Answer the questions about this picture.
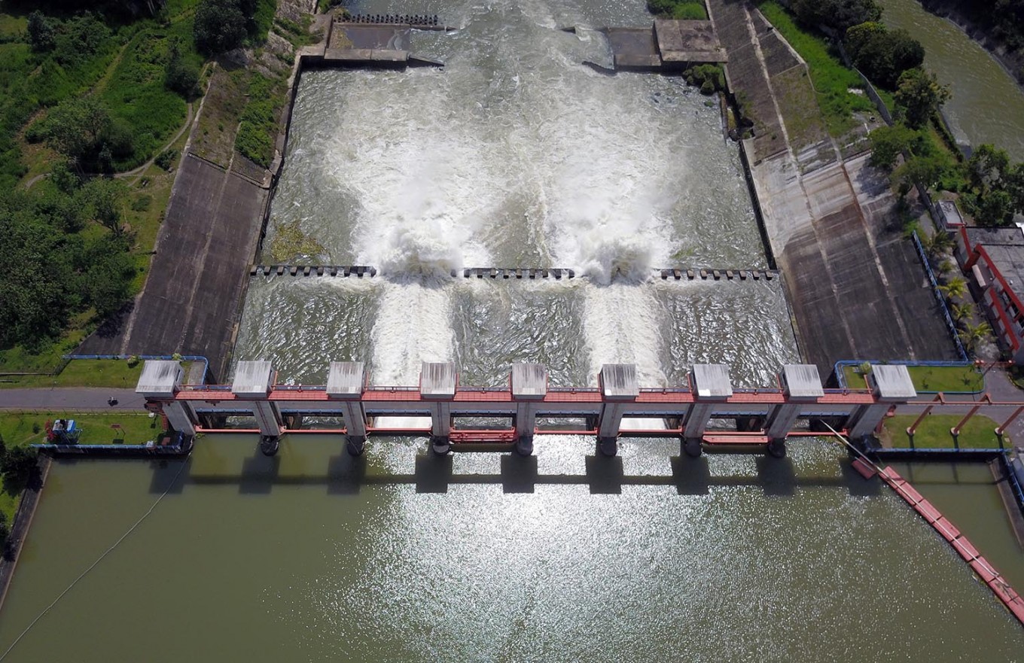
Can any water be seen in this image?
Yes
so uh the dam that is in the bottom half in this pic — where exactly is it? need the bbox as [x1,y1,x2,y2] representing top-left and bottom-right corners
[46,357,992,459]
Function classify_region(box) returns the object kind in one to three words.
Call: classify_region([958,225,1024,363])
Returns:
building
